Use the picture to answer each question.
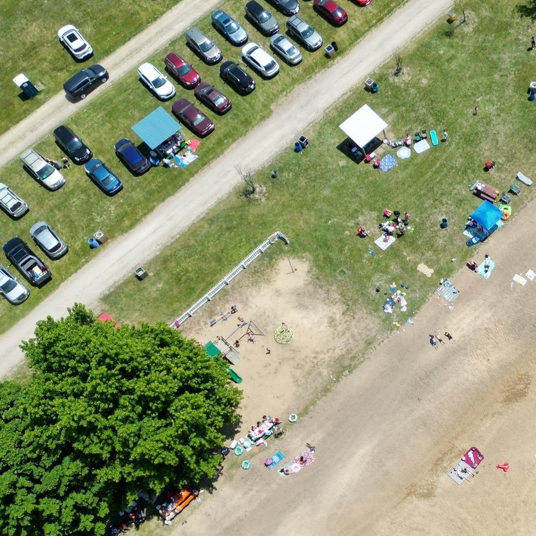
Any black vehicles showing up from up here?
Yes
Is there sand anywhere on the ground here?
Yes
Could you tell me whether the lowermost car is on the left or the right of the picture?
left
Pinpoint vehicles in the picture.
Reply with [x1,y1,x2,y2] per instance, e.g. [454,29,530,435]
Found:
[270,35,304,67]
[59,65,113,100]
[137,62,175,101]
[211,10,246,46]
[0,266,29,304]
[30,223,69,257]
[267,0,299,17]
[184,25,223,65]
[114,139,153,177]
[244,0,280,36]
[19,148,64,189]
[196,84,234,116]
[3,238,54,285]
[219,62,257,97]
[59,26,94,62]
[285,15,322,51]
[313,0,349,29]
[49,123,93,166]
[85,160,125,197]
[243,46,281,79]
[172,102,215,139]
[0,184,31,220]
[162,49,201,87]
